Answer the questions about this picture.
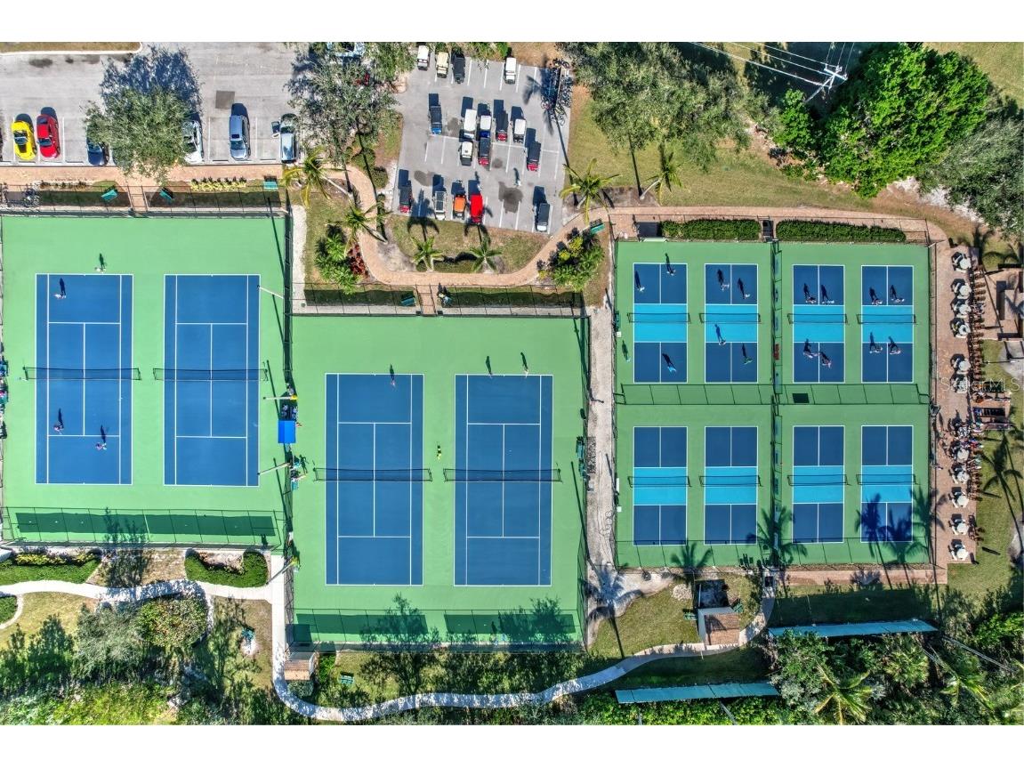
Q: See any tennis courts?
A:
Yes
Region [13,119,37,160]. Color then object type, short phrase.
yellow car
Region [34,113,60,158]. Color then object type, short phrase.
red car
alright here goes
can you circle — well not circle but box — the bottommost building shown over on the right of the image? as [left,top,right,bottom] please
[698,608,743,649]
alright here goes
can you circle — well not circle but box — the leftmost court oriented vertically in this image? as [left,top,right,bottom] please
[2,216,148,542]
